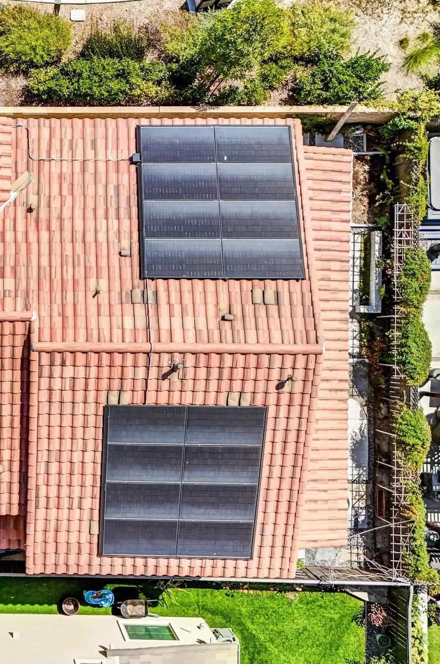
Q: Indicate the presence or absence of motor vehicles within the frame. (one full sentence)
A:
No, I can't see a single motor vehicle in this photo.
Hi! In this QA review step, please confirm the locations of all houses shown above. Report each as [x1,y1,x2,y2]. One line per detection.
[0,111,356,583]
[0,614,242,664]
